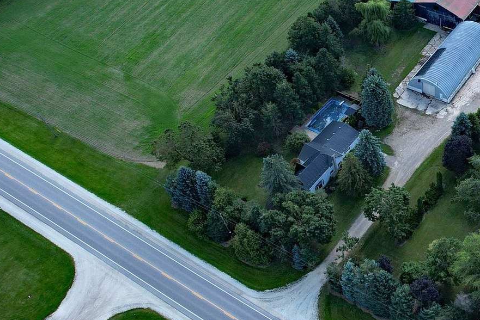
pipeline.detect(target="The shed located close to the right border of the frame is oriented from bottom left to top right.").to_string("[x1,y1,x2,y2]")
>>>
[406,21,480,103]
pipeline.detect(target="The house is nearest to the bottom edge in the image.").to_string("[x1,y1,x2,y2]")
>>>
[291,121,363,198]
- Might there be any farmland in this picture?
Yes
